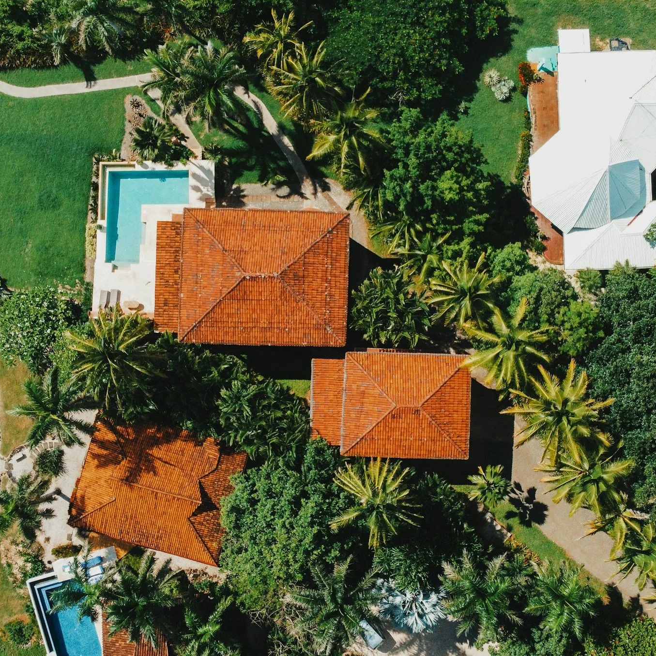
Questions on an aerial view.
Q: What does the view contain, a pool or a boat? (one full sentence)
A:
There is a pool in the scene.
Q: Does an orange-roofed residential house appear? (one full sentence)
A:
Yes, the frame does contain an orange-roofed residential house.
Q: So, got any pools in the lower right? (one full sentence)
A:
No, looking in the lower right, there is no pool.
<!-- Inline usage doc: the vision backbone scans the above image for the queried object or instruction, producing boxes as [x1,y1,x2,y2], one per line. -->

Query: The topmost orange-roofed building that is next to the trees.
[154,207,351,349]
